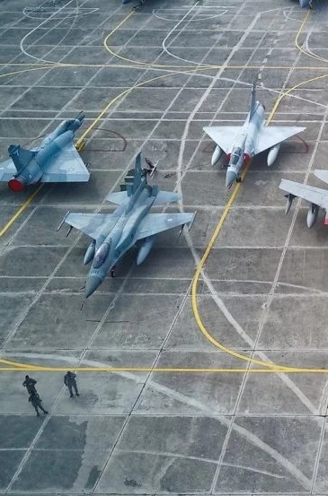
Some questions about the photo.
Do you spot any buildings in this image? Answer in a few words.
No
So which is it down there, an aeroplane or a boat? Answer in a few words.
aeroplane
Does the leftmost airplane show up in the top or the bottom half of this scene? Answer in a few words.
top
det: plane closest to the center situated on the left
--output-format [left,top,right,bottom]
[56,152,198,303]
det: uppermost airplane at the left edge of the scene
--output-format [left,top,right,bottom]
[0,114,90,201]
